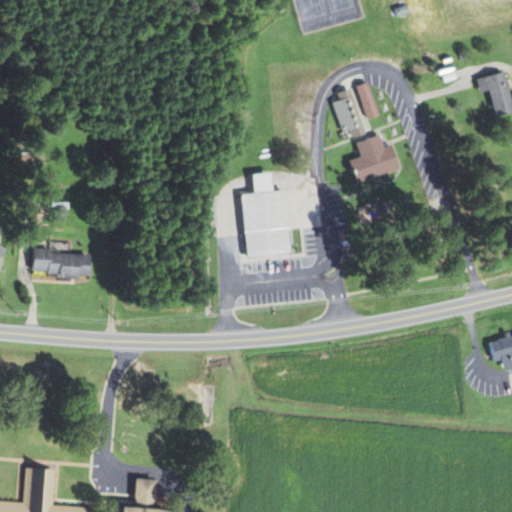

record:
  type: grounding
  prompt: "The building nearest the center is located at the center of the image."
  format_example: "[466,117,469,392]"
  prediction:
[242,172,292,257]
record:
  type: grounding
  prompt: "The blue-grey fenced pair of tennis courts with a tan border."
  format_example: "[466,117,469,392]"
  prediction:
[295,0,364,34]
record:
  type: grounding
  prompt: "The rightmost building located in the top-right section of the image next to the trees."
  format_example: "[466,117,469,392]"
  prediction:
[476,71,512,114]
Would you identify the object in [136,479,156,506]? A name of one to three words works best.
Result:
building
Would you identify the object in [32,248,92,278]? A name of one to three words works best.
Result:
house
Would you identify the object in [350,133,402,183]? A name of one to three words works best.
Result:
building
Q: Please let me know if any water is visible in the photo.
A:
No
